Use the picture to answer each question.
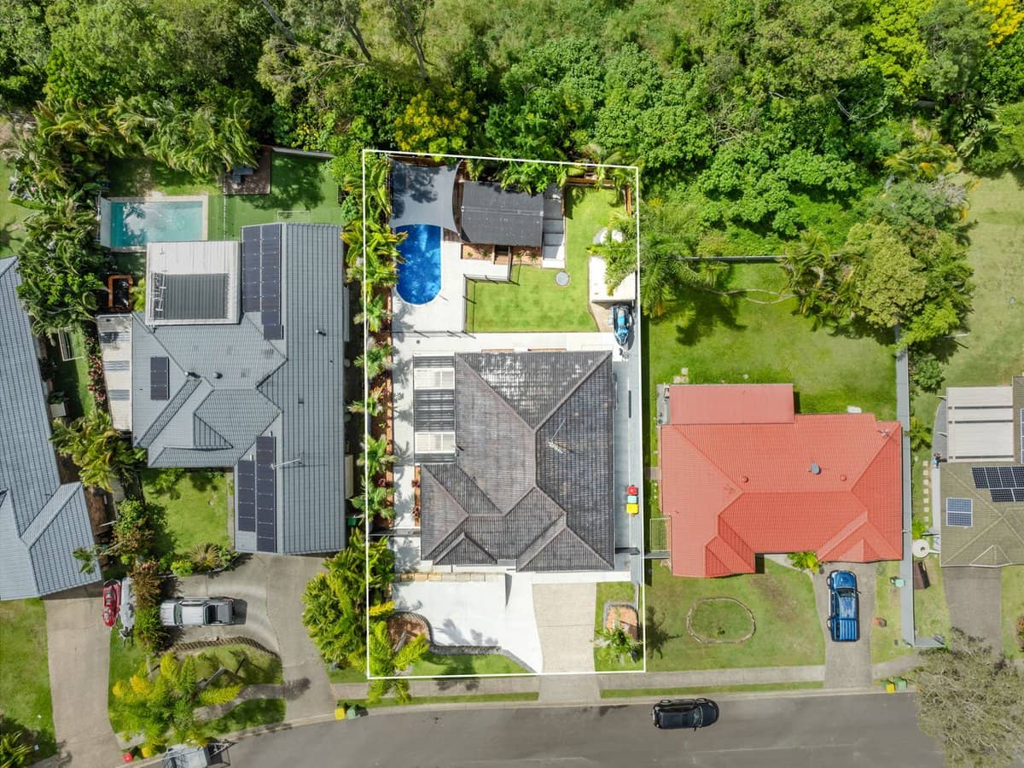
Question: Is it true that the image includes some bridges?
No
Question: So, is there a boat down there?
Yes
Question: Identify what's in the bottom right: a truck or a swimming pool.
truck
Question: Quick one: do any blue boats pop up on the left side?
No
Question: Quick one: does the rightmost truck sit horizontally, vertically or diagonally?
vertically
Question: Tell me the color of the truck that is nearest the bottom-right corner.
blue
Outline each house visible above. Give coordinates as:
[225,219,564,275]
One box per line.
[420,350,616,574]
[129,221,345,555]
[938,374,1024,569]
[0,257,114,608]
[661,383,903,578]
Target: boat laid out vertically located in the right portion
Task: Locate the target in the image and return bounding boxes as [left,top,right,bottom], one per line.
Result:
[613,303,631,350]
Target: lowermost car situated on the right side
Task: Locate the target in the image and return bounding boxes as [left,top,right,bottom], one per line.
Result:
[651,696,717,732]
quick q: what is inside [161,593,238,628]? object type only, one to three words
truck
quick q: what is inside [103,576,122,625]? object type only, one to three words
boat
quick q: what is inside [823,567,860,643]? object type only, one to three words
truck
